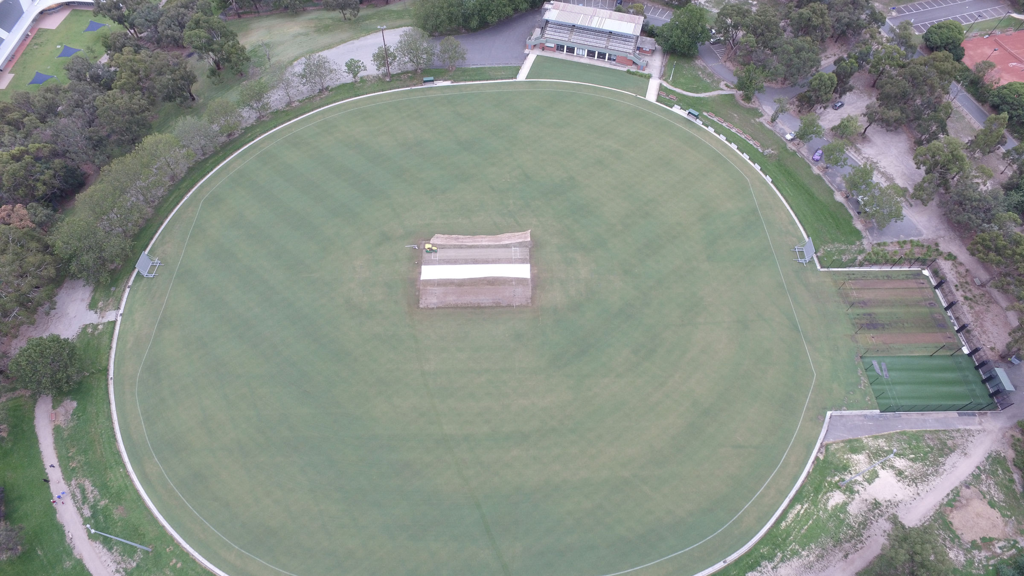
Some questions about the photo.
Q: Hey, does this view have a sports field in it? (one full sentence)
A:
Yes, looking at the shot, I can spot a sports field.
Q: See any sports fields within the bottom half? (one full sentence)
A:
Yes, a sports field appears within the bottom half.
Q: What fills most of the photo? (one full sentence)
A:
The bulk of the photo consists of grass.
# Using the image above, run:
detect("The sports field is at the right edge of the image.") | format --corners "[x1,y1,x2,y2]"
[863,355,996,411]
